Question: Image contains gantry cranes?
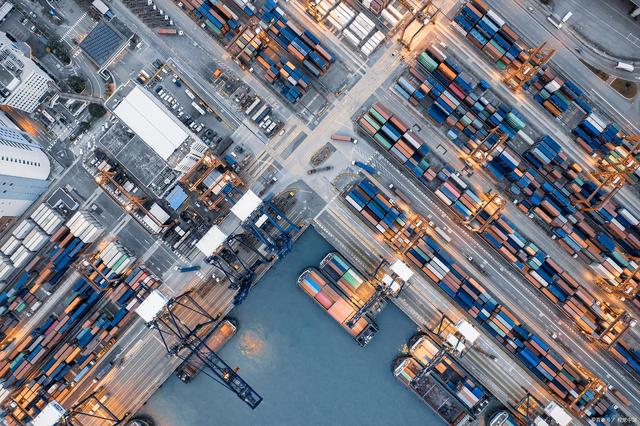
Yes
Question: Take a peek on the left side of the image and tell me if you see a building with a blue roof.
Yes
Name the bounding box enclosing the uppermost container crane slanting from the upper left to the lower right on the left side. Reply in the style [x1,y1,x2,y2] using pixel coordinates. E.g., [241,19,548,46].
[93,167,145,206]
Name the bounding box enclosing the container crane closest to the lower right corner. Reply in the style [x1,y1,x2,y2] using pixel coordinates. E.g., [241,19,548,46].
[551,367,611,419]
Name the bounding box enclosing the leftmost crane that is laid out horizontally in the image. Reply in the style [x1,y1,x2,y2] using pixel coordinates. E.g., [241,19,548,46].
[32,373,139,426]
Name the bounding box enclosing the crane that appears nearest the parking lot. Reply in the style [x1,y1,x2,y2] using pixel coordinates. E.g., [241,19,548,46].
[181,155,229,198]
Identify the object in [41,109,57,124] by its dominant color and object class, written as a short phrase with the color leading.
white vehicle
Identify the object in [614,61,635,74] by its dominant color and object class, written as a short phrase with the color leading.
white vehicle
